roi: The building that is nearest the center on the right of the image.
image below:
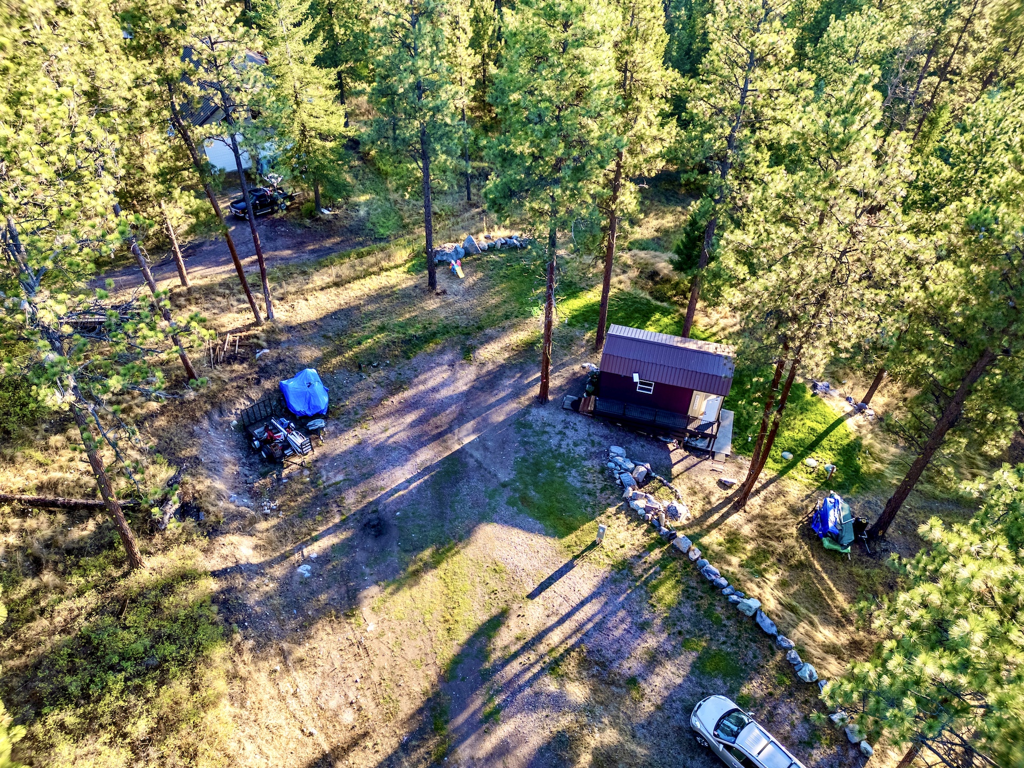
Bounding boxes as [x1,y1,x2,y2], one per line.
[591,325,737,448]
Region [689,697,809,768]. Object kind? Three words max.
car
